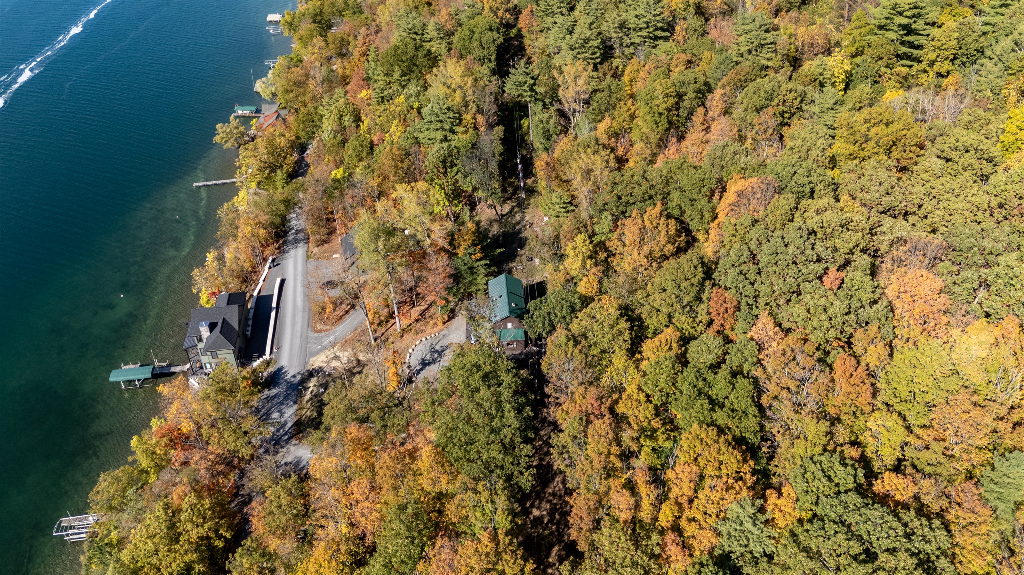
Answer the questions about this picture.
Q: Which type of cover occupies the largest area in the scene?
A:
trees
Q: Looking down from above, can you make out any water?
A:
Yes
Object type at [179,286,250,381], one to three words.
house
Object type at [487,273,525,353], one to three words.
house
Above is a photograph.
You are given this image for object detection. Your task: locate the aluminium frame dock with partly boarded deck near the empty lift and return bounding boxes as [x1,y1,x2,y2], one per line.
[51,511,103,539]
